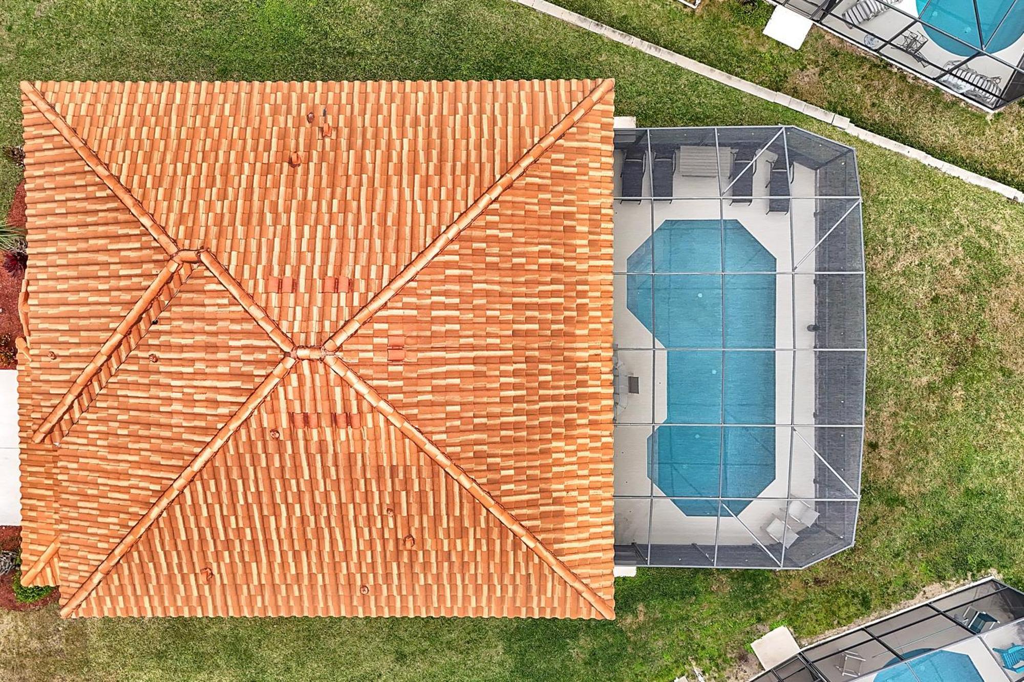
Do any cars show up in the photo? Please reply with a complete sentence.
No, I can't see a single car in this photo.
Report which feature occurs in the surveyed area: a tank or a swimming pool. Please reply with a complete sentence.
The one in the frame is a swimming pool.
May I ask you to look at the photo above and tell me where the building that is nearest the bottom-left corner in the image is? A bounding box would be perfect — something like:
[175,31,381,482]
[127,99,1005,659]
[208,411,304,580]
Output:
[15,75,618,623]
